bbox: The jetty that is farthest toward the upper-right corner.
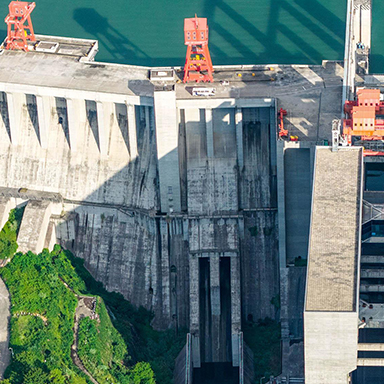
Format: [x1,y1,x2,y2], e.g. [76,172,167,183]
[354,0,372,51]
